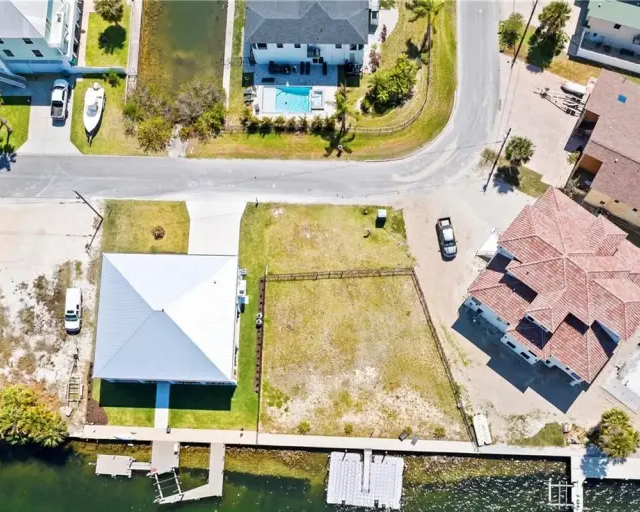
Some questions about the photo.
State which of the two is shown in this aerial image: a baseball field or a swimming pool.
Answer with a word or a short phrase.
swimming pool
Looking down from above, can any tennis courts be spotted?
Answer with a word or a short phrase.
No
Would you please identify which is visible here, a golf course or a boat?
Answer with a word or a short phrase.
boat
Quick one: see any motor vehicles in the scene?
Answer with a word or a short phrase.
Yes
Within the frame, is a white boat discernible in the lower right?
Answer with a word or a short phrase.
No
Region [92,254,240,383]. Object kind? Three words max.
house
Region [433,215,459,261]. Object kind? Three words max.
truck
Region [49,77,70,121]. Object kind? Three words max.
truck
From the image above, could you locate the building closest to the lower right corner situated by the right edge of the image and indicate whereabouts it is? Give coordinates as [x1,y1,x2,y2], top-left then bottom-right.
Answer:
[466,187,640,384]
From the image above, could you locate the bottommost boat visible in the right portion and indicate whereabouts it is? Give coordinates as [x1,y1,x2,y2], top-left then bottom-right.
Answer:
[561,82,586,99]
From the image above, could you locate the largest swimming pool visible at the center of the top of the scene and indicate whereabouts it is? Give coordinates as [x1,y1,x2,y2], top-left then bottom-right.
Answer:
[261,84,312,114]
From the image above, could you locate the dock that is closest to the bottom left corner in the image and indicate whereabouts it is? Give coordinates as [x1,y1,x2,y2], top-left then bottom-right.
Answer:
[92,455,134,480]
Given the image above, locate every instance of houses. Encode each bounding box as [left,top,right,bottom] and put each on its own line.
[0,0,83,91]
[578,0,640,54]
[576,69,640,226]
[466,187,640,384]
[92,254,240,383]
[245,0,379,63]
